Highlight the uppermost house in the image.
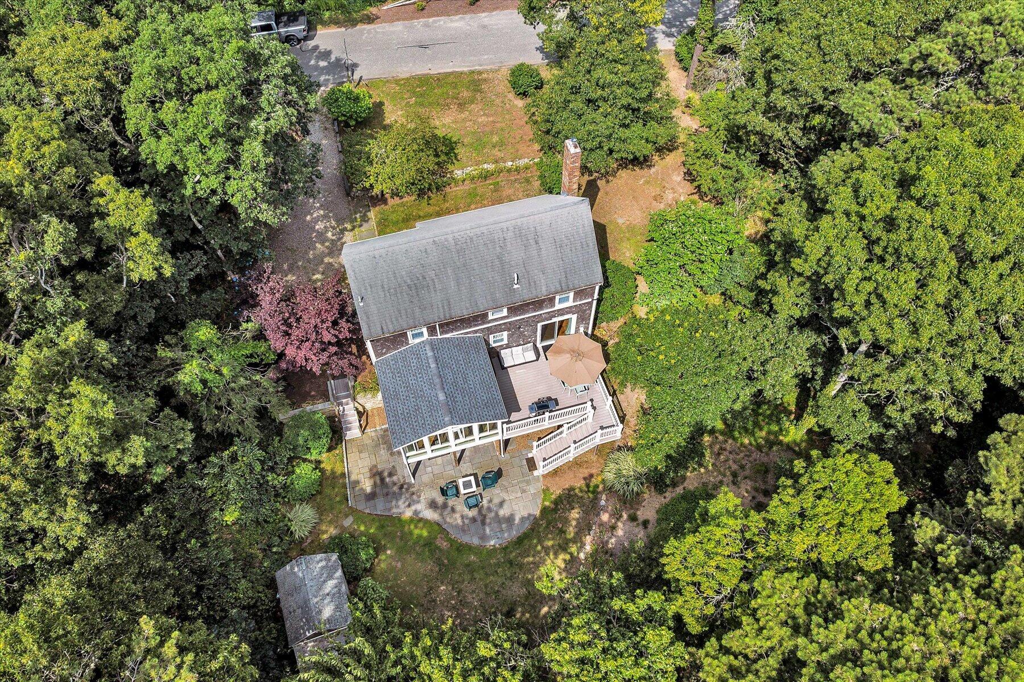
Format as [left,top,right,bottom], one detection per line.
[342,135,605,363]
